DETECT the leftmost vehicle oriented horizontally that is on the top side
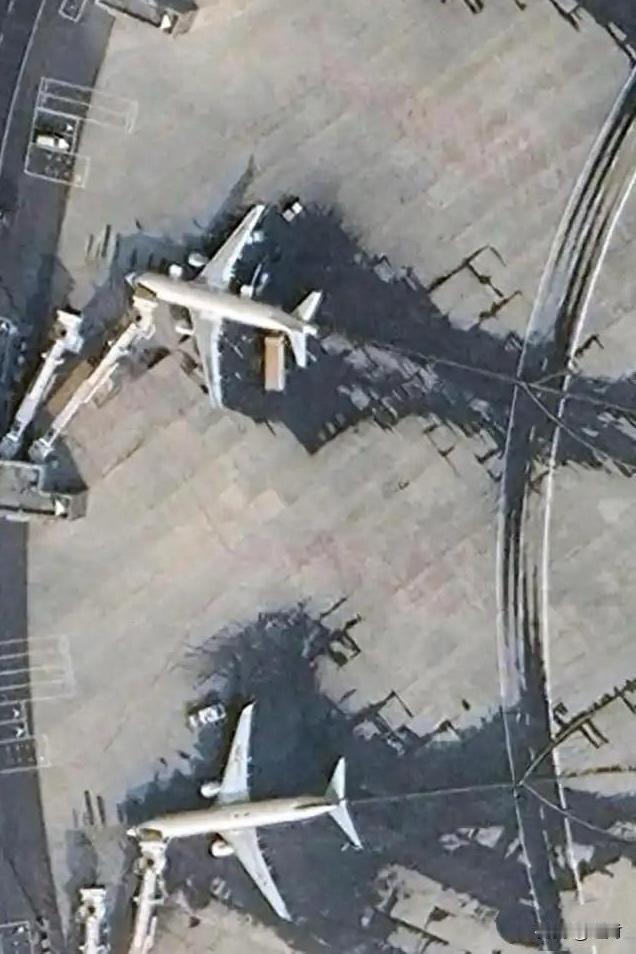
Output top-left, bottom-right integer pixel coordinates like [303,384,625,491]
[36,133,69,147]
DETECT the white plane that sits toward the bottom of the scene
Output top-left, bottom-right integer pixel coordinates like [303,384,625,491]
[129,705,359,919]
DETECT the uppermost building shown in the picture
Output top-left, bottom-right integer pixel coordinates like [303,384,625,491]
[95,0,193,39]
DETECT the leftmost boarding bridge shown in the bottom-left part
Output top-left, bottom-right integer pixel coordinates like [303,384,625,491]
[75,888,109,954]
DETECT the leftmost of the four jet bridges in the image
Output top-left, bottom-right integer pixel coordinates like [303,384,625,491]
[0,307,82,457]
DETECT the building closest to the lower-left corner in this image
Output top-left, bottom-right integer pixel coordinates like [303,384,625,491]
[0,460,88,521]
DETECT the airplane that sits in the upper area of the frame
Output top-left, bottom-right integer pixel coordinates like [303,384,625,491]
[128,205,325,406]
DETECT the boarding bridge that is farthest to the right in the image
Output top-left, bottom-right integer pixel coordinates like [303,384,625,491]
[131,830,169,954]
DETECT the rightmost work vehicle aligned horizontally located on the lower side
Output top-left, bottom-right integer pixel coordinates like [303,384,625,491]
[188,706,225,726]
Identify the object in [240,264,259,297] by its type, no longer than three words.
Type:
work vehicle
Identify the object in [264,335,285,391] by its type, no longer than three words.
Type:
vehicle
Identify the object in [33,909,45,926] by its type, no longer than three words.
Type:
vehicle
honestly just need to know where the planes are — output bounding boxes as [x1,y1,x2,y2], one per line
[128,205,325,406]
[129,705,359,919]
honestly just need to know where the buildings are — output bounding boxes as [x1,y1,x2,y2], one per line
[0,460,88,521]
[95,0,193,39]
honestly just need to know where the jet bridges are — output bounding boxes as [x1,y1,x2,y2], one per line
[0,307,82,457]
[75,888,109,954]
[131,830,169,954]
[29,283,158,461]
